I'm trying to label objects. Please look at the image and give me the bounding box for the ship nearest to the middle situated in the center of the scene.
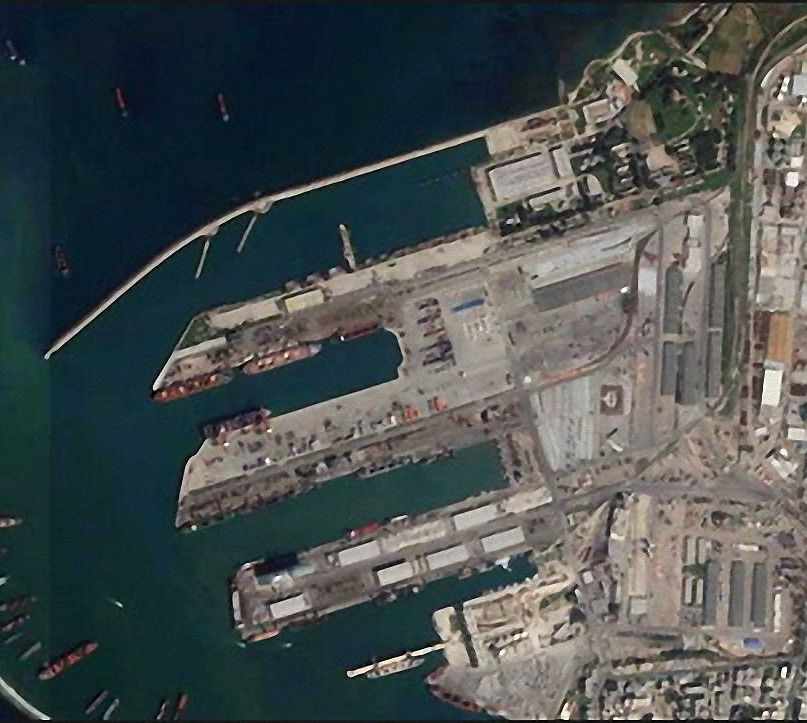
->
[338,324,379,341]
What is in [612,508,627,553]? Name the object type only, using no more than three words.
house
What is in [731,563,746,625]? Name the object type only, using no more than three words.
building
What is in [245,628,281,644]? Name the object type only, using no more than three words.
ship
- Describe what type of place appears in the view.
port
